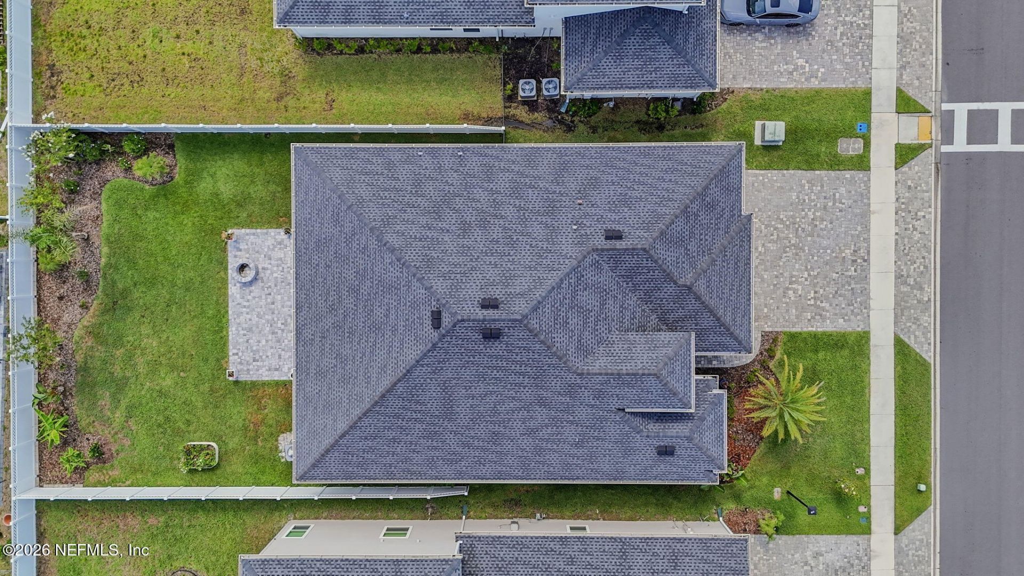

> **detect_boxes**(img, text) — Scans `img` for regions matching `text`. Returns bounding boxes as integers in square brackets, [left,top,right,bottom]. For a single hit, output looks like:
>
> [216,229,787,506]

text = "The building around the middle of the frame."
[292,142,759,484]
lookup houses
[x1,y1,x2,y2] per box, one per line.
[292,142,759,484]
[239,518,753,576]
[274,0,720,100]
